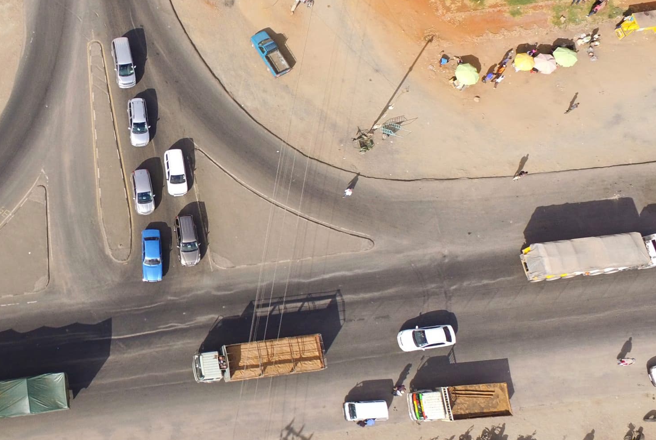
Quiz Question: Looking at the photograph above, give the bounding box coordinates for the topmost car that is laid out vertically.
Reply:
[110,34,138,90]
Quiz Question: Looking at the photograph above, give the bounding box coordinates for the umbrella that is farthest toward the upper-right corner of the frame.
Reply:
[551,49,574,70]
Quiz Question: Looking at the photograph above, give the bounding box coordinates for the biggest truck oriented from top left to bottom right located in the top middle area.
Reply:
[249,30,295,81]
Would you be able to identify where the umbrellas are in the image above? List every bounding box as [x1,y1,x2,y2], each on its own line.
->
[551,49,574,70]
[510,54,531,73]
[454,64,475,87]
[531,54,553,76]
